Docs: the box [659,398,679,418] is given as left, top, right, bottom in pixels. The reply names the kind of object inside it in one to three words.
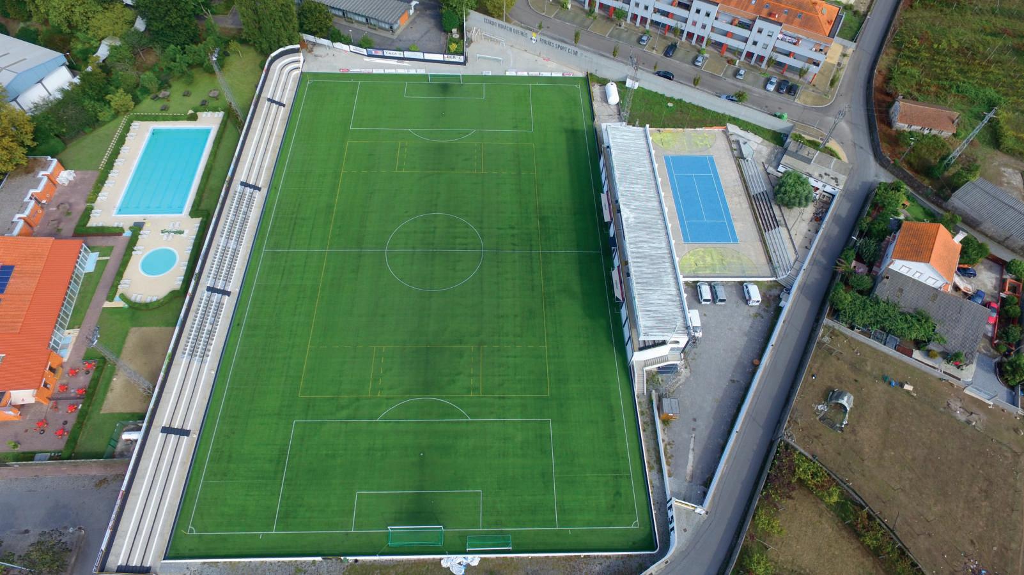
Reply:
shed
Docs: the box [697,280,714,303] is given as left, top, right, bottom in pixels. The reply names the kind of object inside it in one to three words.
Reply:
vehicle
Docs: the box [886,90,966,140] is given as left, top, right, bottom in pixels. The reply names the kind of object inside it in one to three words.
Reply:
barn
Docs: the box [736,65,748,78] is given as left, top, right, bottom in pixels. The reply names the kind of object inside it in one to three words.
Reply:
vehicle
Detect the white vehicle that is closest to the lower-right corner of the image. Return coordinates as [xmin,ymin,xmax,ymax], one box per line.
[744,282,763,304]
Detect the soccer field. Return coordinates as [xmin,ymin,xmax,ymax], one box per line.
[166,72,654,557]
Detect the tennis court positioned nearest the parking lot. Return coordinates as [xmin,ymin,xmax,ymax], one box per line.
[645,128,775,278]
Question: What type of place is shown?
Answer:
sports ground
